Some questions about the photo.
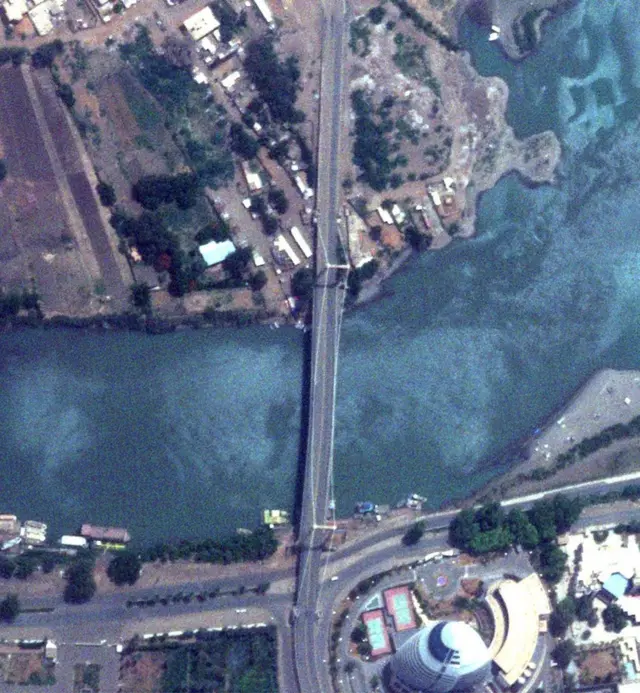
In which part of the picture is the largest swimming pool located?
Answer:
bottom right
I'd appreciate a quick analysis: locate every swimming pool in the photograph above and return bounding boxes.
[603,573,628,598]
[626,665,635,679]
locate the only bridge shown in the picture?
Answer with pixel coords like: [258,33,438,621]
[293,0,350,693]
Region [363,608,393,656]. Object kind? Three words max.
tennis court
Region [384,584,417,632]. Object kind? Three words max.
tennis court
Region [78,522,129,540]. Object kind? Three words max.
ship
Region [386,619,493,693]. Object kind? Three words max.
building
